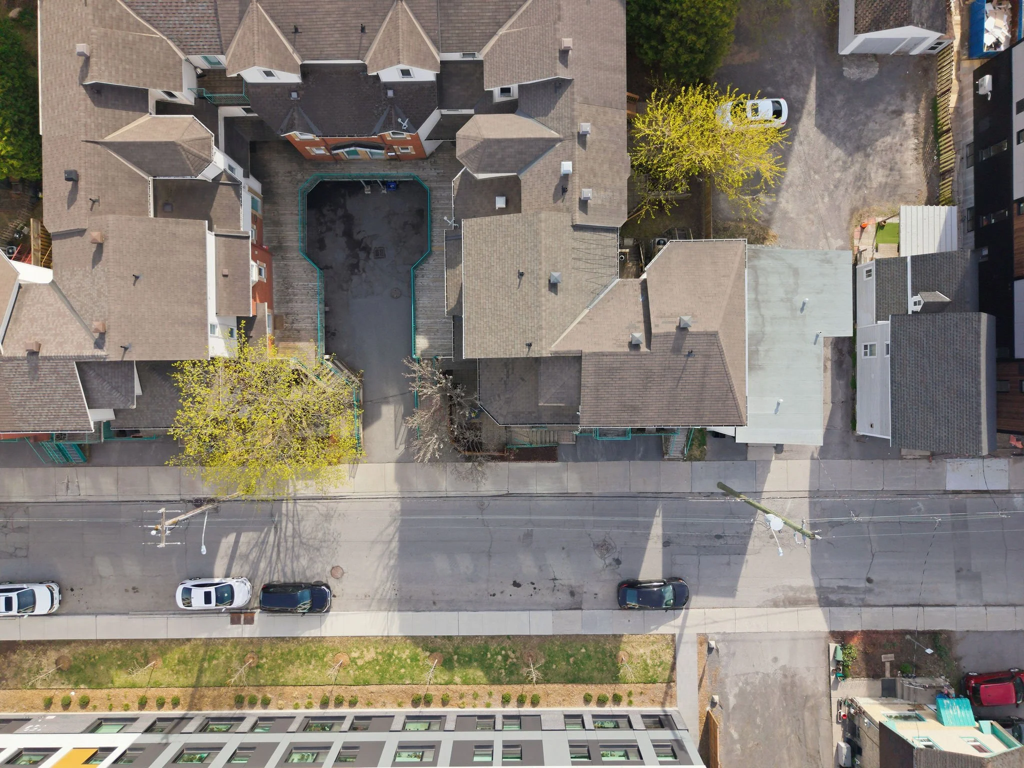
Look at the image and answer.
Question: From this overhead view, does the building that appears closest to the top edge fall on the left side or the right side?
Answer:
right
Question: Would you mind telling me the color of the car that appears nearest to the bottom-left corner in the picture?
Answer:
white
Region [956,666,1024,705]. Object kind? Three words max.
car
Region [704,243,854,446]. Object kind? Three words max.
building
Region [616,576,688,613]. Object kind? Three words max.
car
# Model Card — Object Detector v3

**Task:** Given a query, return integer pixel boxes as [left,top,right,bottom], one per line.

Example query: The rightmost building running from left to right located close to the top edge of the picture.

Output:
[839,0,957,55]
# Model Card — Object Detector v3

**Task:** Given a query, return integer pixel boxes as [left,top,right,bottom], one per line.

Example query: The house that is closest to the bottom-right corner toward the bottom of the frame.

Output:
[856,697,1024,768]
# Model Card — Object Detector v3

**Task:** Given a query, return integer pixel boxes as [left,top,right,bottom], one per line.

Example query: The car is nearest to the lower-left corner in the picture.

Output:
[0,580,66,619]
